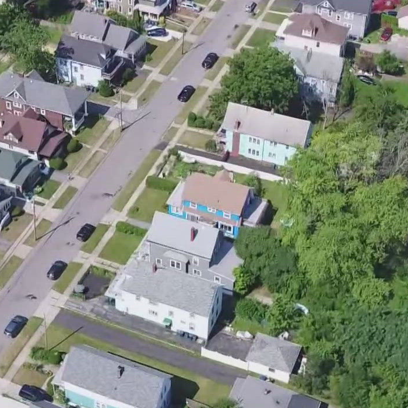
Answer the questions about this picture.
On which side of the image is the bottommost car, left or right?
left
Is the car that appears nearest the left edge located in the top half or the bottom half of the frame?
bottom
